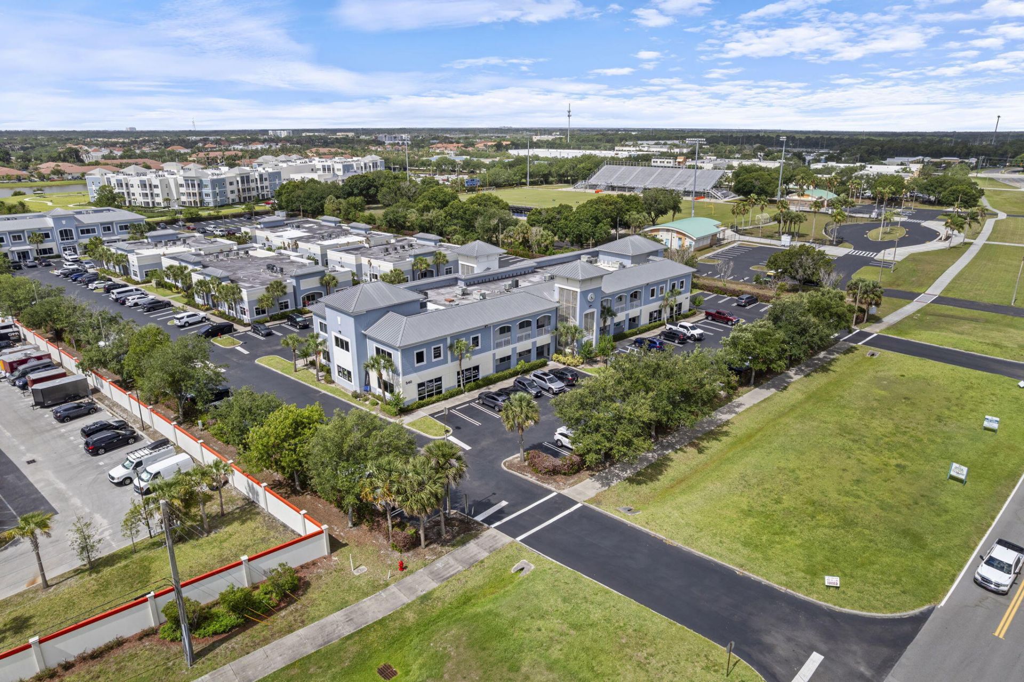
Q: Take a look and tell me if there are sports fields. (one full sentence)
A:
Yes, this view includes a sports field.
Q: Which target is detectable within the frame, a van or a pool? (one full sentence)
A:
Of the two, only a van appears.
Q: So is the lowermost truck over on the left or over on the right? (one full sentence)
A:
You can find the lowermost truck on the right side of the picture.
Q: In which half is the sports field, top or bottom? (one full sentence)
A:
The sports field sits in the top half of the picture.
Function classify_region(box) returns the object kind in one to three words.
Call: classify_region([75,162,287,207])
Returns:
building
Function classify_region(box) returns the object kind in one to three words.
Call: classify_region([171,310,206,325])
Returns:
car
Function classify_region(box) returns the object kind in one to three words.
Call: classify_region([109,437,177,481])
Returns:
van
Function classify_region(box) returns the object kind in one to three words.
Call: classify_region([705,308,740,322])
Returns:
vehicle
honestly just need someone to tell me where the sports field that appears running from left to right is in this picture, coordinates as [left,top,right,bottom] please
[494,186,830,247]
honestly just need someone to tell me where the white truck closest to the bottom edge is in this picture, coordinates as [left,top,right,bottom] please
[973,541,1024,596]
